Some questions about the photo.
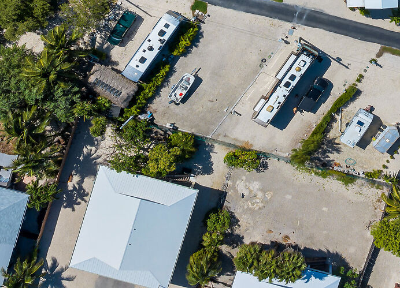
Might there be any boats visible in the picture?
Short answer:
Yes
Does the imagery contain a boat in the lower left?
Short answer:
No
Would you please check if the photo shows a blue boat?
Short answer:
No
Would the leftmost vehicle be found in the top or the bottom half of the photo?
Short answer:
top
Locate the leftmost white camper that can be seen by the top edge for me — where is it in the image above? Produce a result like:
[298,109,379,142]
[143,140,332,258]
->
[124,8,189,82]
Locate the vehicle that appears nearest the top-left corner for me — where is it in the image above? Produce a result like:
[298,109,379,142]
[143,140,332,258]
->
[108,11,138,48]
